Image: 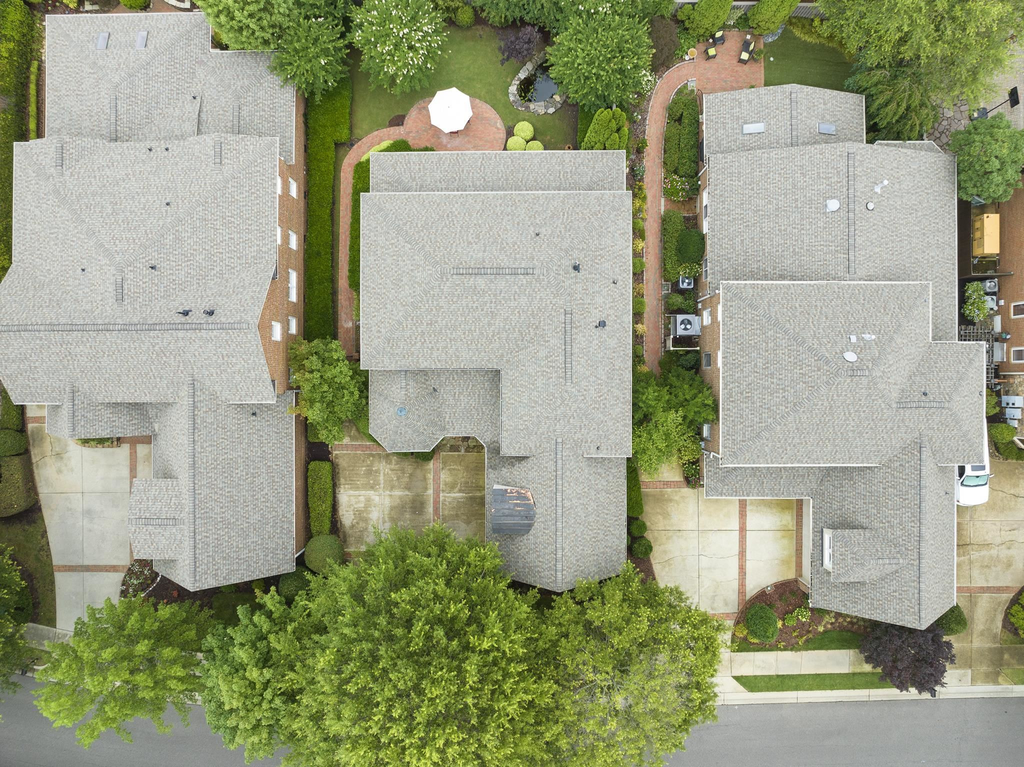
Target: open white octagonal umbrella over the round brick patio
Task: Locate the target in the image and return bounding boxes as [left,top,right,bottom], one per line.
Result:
[427,88,473,134]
